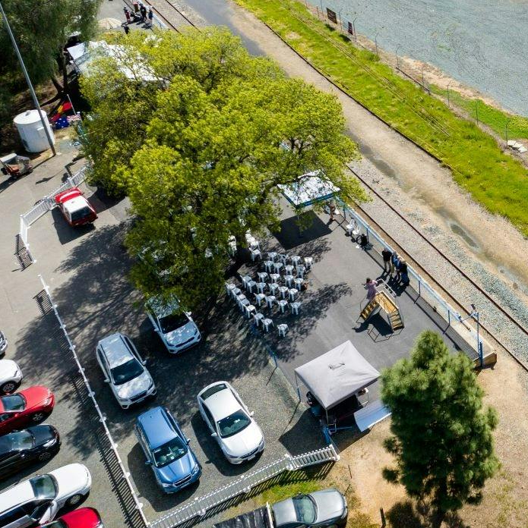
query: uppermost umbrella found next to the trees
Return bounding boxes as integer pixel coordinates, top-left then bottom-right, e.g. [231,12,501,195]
[87,7,120,34]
